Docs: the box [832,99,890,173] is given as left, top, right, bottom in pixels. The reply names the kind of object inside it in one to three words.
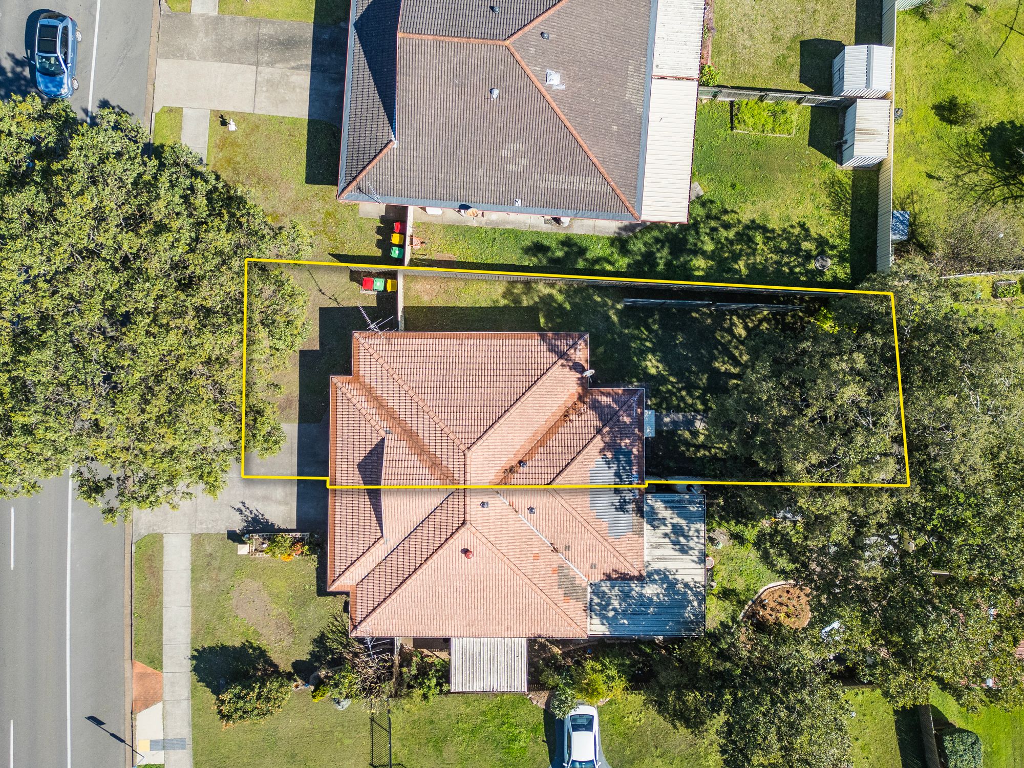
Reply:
shed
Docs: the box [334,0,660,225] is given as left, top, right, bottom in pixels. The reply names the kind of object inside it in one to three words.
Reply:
house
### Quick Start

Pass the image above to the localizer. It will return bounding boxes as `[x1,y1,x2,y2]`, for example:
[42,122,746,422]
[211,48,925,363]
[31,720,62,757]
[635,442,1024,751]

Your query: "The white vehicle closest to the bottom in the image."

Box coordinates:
[562,700,603,768]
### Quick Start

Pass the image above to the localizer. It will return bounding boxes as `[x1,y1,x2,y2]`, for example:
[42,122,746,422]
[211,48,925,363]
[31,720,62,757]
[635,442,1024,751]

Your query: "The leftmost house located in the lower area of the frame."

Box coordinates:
[327,331,646,639]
